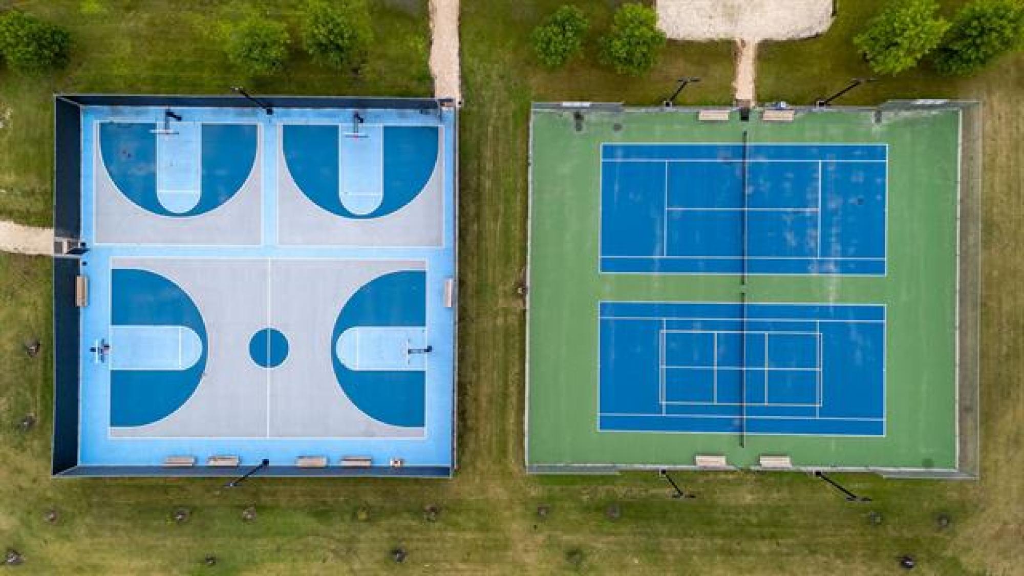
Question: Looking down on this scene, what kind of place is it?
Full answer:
The area seen from above is a sports ground.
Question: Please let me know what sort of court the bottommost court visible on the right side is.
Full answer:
It turns out the bottommost court visible on the right side is a tennis court.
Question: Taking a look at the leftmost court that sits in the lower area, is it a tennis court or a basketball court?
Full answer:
It turns out the leftmost court that sits in the lower area is a basketball court.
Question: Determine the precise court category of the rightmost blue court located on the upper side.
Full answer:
Specifically, the rightmost blue court located on the upper side is a tennis court.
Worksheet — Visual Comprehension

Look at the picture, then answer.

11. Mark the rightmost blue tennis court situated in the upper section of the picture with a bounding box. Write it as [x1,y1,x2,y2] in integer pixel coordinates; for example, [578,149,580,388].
[599,144,888,276]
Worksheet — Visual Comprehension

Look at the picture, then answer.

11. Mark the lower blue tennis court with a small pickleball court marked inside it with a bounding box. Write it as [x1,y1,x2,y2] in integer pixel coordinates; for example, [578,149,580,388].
[598,301,886,437]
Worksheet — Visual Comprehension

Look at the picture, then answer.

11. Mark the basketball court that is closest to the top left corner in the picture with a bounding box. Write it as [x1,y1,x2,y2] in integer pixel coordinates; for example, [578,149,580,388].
[94,121,262,246]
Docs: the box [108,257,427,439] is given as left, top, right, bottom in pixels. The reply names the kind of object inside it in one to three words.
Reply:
basketball court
